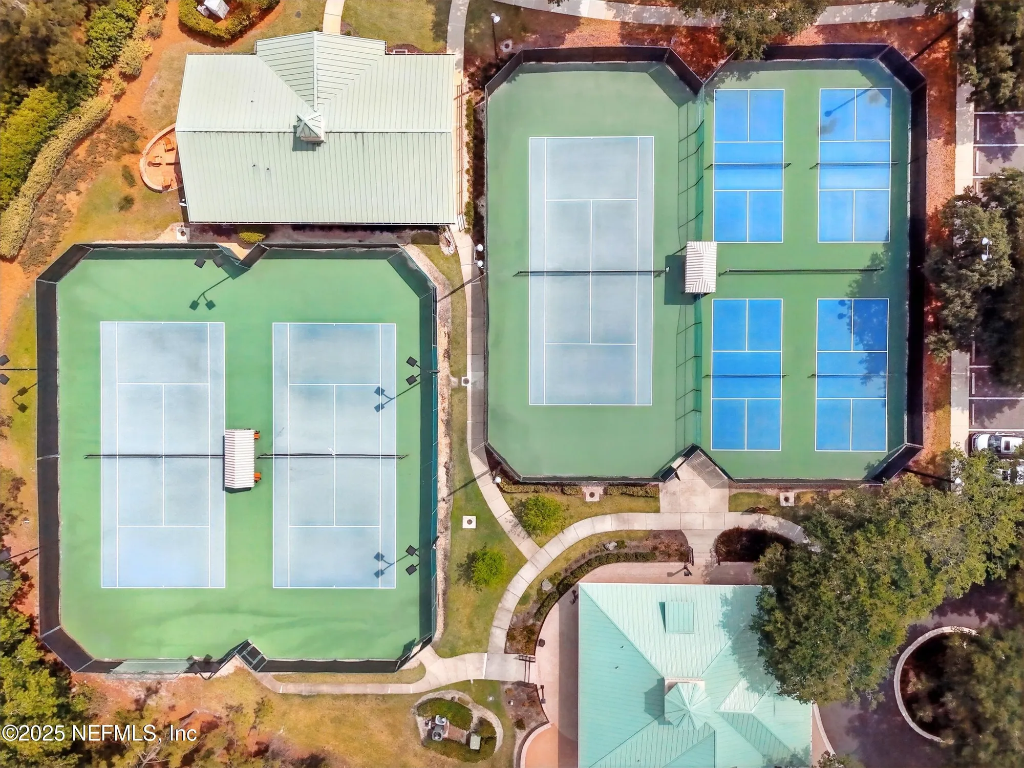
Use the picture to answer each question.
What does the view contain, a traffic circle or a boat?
traffic circle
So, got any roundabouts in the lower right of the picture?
Yes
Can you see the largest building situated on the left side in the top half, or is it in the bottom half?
top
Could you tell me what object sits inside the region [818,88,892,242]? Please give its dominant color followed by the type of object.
blue sports court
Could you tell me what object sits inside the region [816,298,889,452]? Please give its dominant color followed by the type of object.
blue sports court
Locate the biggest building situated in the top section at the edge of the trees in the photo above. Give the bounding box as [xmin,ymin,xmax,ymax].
[175,31,456,227]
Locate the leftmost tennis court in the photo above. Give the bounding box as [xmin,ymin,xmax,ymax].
[101,322,225,588]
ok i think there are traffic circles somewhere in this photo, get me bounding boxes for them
[893,625,1011,742]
